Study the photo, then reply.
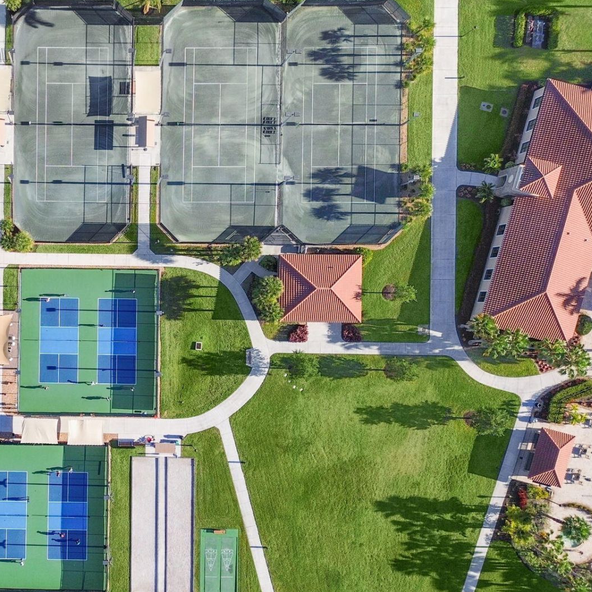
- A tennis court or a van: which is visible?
tennis court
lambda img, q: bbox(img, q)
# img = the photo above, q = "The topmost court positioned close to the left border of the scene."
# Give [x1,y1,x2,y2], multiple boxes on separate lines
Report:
[13,6,133,242]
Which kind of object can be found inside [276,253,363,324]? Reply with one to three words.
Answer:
building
